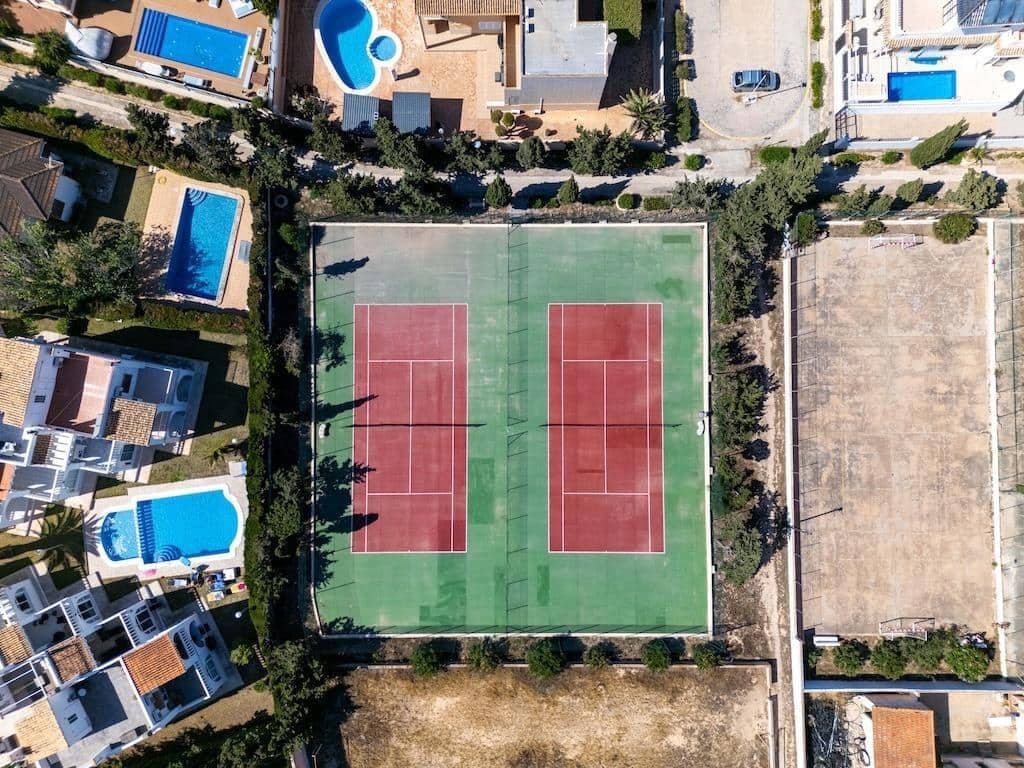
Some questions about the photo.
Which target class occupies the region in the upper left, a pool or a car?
pool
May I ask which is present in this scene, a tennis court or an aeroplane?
tennis court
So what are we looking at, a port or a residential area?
residential area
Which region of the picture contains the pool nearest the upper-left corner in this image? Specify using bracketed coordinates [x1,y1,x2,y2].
[133,6,252,78]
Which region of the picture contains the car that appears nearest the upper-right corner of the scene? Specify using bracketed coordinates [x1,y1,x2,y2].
[732,68,778,93]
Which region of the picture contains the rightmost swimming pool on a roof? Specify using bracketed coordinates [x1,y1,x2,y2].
[884,66,960,104]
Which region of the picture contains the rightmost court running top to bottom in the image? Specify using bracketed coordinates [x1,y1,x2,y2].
[1000,224,1024,678]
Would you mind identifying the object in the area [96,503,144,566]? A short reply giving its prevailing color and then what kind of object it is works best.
blue swimming pool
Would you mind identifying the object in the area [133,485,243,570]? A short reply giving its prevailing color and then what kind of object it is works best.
blue swimming pool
